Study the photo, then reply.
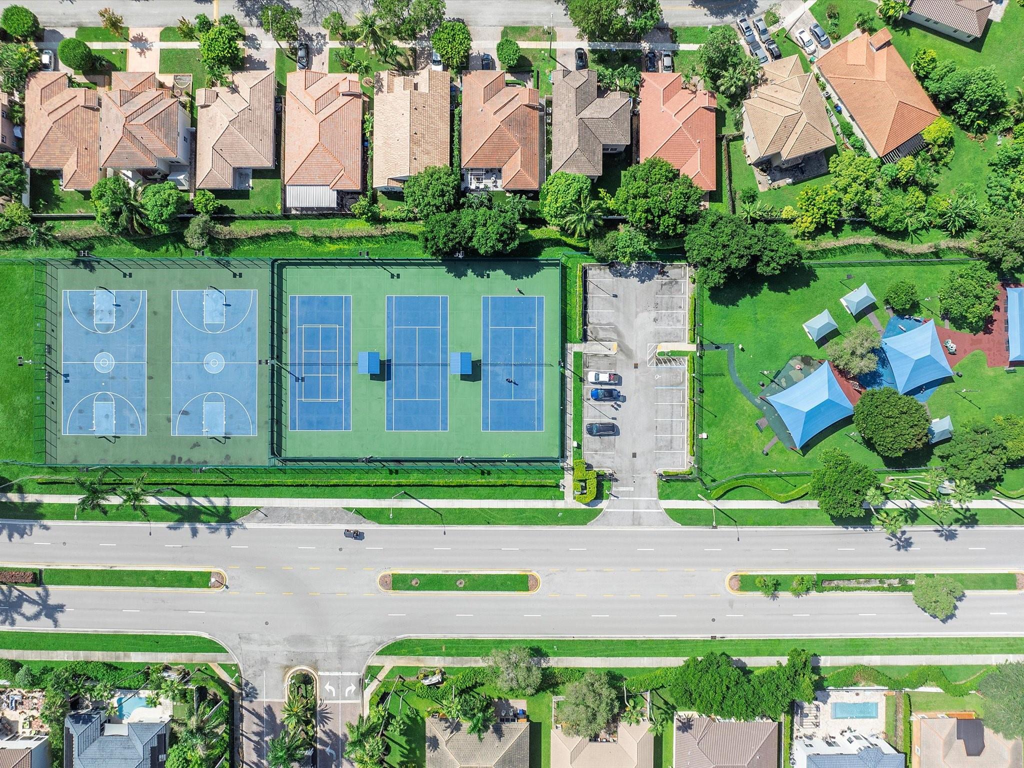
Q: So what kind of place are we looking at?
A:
residential area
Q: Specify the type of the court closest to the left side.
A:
basketball court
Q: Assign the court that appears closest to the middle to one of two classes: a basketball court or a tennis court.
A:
tennis court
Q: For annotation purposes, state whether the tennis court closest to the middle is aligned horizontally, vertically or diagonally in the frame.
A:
vertically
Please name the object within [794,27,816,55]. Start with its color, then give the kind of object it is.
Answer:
white car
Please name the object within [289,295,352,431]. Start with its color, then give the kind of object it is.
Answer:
blue tennis court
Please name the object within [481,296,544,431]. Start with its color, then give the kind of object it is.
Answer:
blue tennis court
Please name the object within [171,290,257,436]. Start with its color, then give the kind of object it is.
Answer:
blue basketball court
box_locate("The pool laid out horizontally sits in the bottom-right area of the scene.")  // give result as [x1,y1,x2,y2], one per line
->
[830,701,879,720]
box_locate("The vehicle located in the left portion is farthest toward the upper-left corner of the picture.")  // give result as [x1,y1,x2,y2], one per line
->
[40,47,56,72]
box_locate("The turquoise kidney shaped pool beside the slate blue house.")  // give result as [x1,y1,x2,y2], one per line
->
[116,696,157,721]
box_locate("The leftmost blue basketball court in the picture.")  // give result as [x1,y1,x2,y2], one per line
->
[62,290,147,435]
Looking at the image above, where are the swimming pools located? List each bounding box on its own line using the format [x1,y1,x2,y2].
[116,696,157,721]
[830,701,879,720]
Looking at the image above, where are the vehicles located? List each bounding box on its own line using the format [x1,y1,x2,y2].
[794,27,816,55]
[431,45,444,68]
[481,52,492,70]
[747,36,770,66]
[752,15,771,43]
[574,46,587,70]
[587,371,620,385]
[587,423,615,436]
[40,47,56,72]
[343,529,362,540]
[592,389,623,401]
[297,42,310,68]
[763,37,784,62]
[661,48,674,73]
[808,23,830,50]
[645,48,658,73]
